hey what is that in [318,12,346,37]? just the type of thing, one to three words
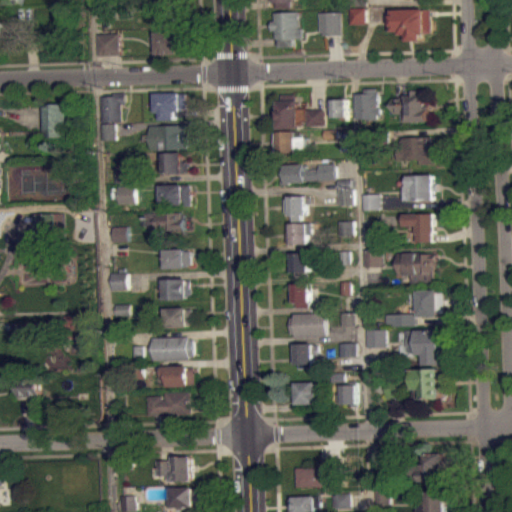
house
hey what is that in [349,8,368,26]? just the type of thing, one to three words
building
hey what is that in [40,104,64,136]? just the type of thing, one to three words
house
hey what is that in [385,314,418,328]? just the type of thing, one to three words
building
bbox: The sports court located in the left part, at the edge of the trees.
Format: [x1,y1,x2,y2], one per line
[8,167,65,202]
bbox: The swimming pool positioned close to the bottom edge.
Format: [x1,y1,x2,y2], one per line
[147,488,166,501]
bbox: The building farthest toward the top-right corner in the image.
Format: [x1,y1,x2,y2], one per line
[386,9,436,42]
